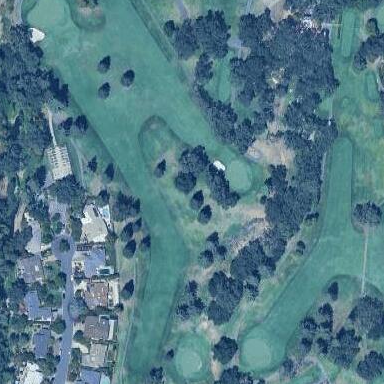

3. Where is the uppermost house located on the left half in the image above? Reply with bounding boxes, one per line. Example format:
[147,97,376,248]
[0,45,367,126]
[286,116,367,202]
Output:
[82,204,107,240]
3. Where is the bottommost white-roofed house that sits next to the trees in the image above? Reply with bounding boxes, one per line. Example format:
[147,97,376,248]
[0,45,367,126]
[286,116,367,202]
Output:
[17,361,41,384]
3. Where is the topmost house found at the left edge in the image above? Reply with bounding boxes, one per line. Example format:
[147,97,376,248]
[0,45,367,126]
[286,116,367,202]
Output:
[18,256,41,281]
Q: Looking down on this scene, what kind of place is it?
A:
golf course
